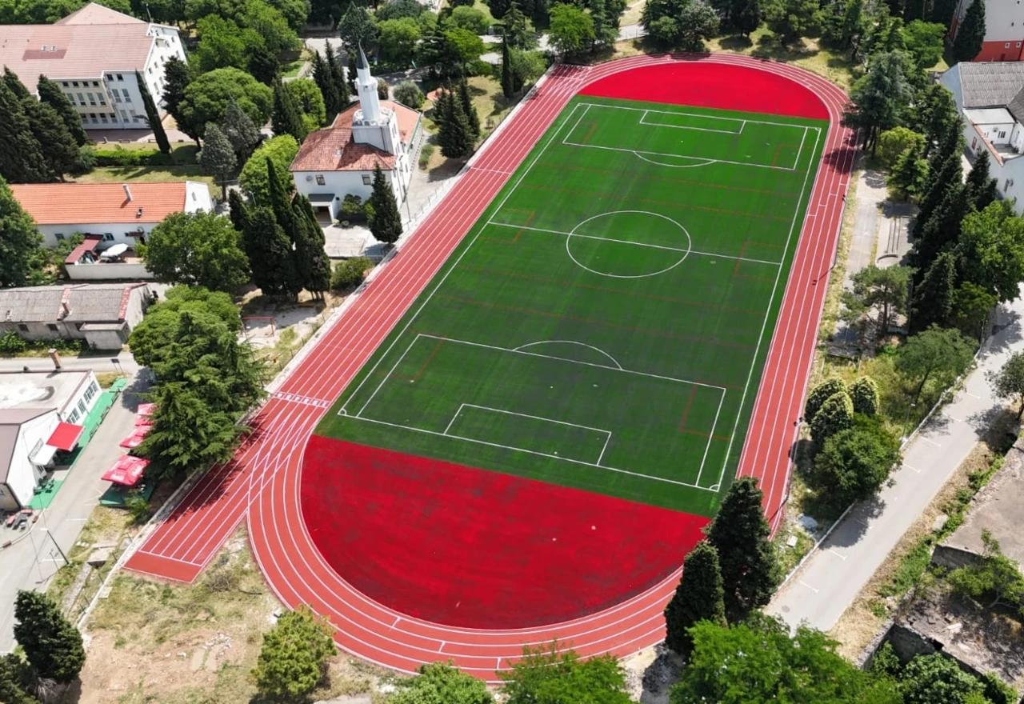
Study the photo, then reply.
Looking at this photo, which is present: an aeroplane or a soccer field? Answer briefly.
soccer field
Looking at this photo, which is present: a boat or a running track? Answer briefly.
running track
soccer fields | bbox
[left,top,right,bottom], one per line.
[314,95,828,520]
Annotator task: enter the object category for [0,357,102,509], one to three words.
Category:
building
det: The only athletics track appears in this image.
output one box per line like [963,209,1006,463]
[245,52,860,687]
